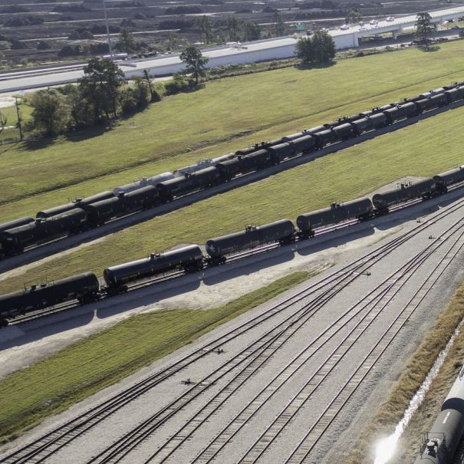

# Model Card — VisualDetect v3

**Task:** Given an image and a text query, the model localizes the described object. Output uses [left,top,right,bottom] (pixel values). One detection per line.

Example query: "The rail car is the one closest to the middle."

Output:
[204,213,299,259]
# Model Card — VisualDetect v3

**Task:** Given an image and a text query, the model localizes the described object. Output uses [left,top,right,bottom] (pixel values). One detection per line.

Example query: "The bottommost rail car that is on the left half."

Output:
[0,265,104,319]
